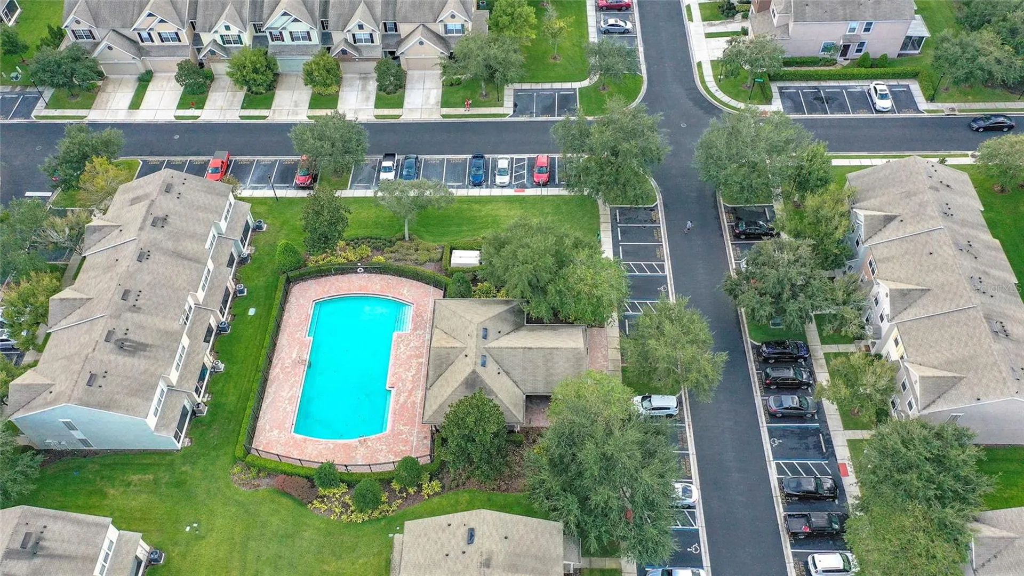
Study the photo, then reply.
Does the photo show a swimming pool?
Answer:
Yes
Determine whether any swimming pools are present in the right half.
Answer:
No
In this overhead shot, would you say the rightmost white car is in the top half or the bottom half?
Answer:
top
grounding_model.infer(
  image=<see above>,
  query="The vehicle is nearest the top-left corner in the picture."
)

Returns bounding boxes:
[205,151,232,183]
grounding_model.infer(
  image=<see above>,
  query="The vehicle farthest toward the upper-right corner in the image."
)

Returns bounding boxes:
[970,115,1015,133]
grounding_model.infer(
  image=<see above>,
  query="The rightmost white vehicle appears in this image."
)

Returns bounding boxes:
[866,85,892,113]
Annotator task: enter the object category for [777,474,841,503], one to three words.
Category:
car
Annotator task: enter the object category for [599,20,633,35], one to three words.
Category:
car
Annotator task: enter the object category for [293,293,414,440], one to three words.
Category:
swimming pool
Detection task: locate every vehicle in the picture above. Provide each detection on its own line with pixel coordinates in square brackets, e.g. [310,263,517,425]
[800,549,862,576]
[764,394,819,419]
[778,512,847,541]
[599,20,633,35]
[762,365,815,390]
[493,158,511,188]
[205,151,232,183]
[970,115,1015,133]
[662,486,702,509]
[633,395,681,420]
[643,561,707,576]
[758,340,810,364]
[400,154,420,180]
[468,156,486,187]
[378,153,399,186]
[866,85,892,113]
[294,158,314,190]
[777,474,841,503]
[533,155,551,186]
[732,221,779,241]
[598,0,631,13]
